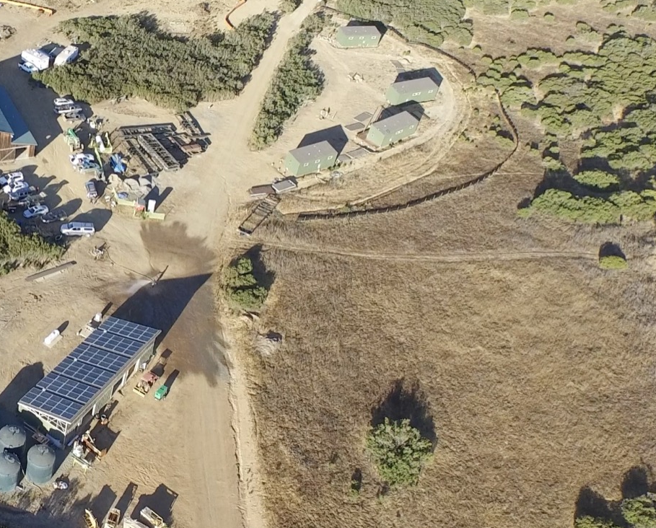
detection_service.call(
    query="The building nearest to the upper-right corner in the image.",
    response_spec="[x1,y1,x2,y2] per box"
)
[381,79,438,105]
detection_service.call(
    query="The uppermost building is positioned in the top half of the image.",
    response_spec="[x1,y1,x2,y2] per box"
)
[329,26,383,47]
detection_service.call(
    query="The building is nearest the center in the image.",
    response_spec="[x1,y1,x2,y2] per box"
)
[275,140,342,176]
